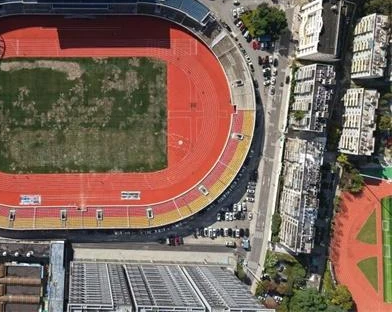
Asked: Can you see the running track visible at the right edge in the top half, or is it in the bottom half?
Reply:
bottom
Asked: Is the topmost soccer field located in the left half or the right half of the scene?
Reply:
left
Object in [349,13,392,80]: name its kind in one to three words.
building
